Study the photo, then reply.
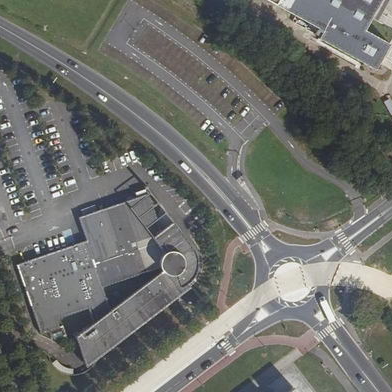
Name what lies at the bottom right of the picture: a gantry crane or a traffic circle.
traffic circle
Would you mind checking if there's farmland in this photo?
No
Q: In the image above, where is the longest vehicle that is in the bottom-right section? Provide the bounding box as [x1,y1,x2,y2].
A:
[318,296,337,322]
